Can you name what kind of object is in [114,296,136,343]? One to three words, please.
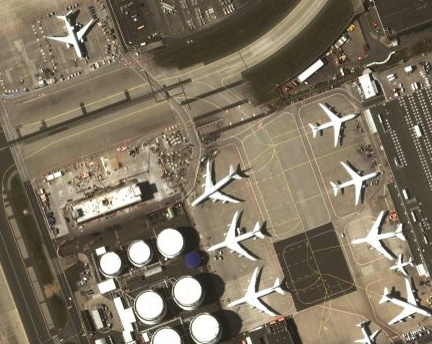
building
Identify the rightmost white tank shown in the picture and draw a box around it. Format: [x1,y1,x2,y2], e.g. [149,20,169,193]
[189,314,221,344]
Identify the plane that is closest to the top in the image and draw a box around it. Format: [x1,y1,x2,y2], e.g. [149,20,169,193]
[44,10,94,58]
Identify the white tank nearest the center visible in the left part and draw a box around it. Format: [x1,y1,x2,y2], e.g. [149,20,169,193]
[155,228,185,259]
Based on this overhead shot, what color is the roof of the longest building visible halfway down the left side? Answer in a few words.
white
